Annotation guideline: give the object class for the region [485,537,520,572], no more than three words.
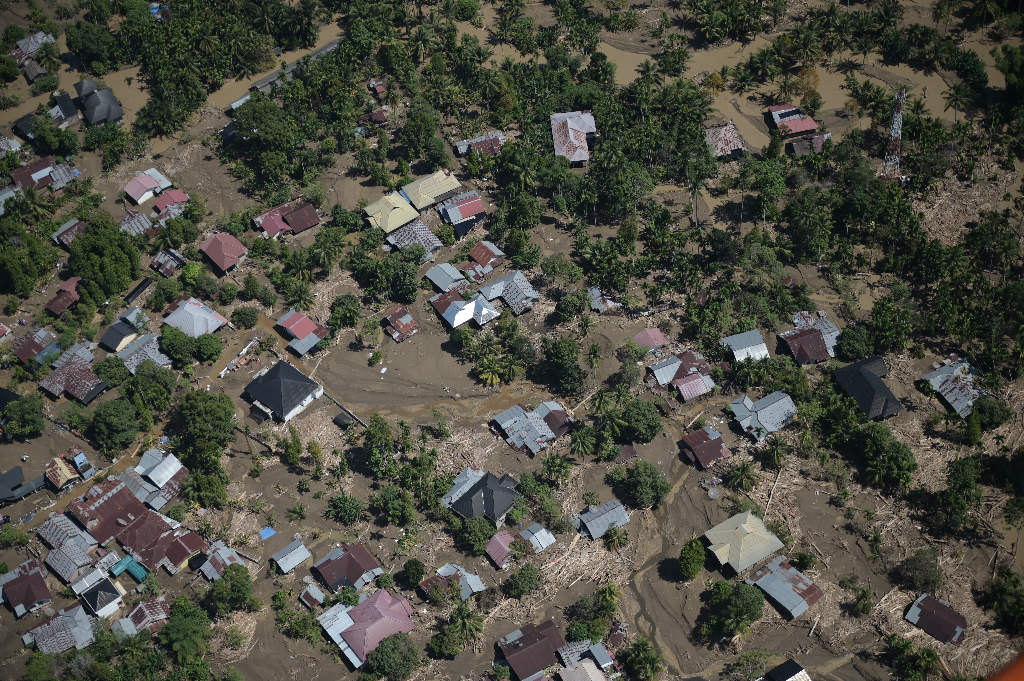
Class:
house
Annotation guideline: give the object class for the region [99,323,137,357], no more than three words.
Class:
house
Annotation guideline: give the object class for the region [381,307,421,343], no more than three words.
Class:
shed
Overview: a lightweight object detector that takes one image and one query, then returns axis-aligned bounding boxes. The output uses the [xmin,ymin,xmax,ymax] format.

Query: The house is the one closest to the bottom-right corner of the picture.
[904,594,967,648]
